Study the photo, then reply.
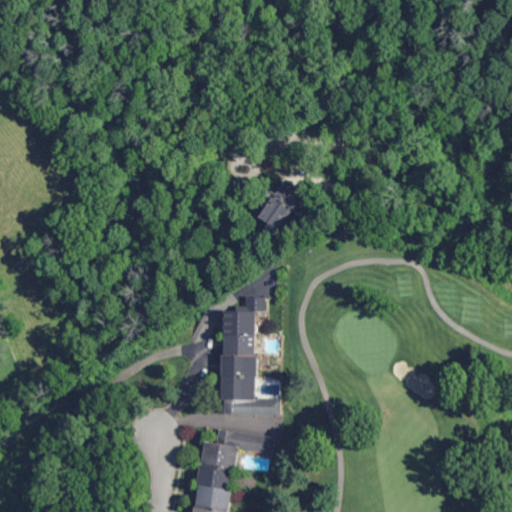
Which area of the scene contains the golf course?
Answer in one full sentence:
You can find the golf course in the bottom right area of the picture.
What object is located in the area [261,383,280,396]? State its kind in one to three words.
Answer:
swimming pool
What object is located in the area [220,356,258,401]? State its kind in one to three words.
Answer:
house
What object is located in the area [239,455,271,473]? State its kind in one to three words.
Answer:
swimming pool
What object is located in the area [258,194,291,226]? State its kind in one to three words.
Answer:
house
